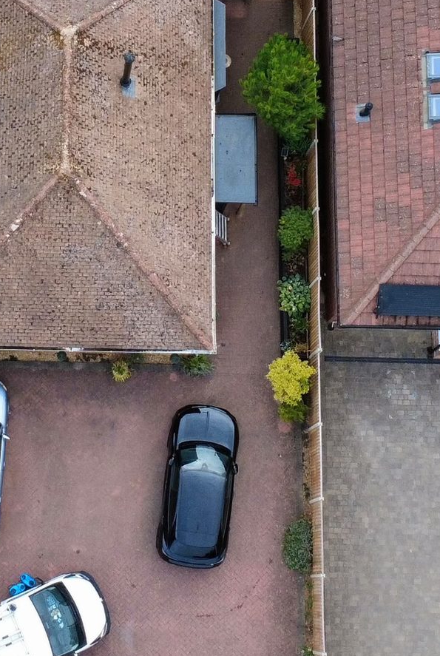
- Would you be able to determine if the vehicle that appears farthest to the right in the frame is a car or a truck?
car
